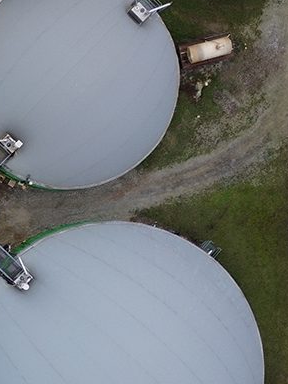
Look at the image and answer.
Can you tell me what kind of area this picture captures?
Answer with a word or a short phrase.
industrial area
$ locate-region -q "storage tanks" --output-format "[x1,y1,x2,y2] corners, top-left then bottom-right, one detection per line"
[0,218,265,384]
[175,34,234,71]
[0,0,180,190]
